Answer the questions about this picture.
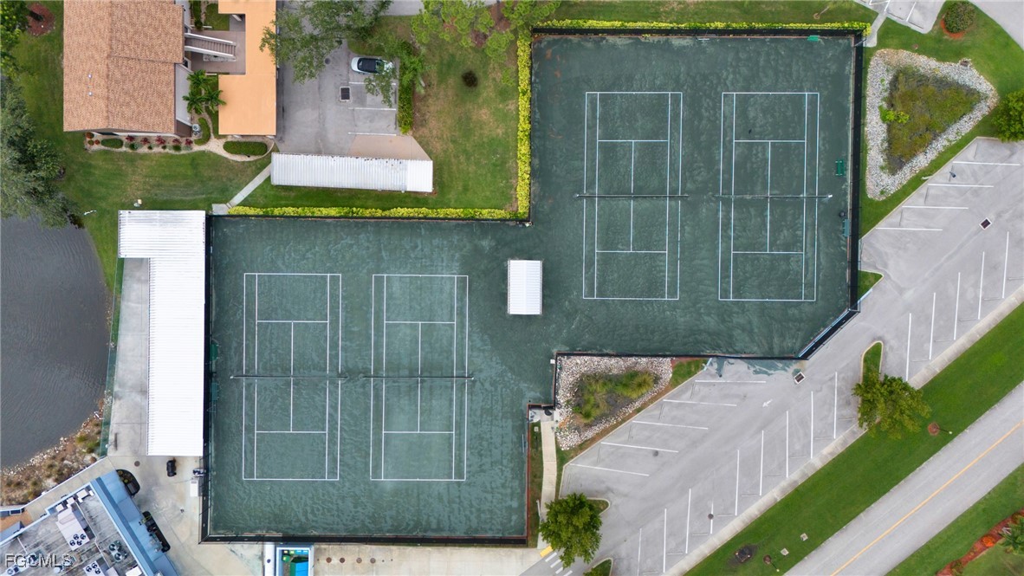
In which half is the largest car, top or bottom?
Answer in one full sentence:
The top half of the photo is where the largest car is.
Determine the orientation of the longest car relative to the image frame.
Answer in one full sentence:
The longest car is laid out from side to side.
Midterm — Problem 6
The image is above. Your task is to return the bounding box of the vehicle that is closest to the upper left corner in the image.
[350,54,391,75]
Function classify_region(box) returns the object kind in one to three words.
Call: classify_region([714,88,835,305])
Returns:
tennis court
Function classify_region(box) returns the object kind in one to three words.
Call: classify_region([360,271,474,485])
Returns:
tennis court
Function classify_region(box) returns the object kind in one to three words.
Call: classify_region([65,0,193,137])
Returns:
house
